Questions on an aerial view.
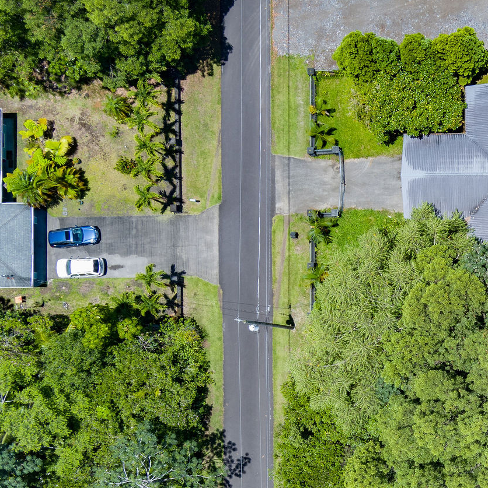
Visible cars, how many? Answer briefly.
2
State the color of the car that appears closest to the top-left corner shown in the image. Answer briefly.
blue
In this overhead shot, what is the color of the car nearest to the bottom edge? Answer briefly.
white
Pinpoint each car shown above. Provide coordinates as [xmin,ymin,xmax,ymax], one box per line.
[58,256,110,279]
[48,223,104,250]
